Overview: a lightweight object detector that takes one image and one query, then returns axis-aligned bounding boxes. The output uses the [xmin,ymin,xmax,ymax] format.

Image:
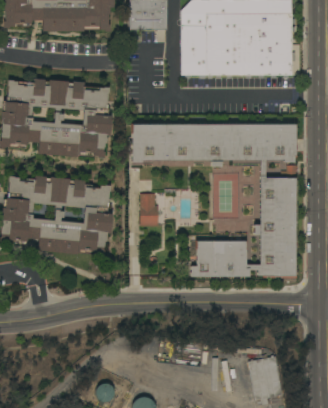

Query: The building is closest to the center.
[140,193,158,226]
